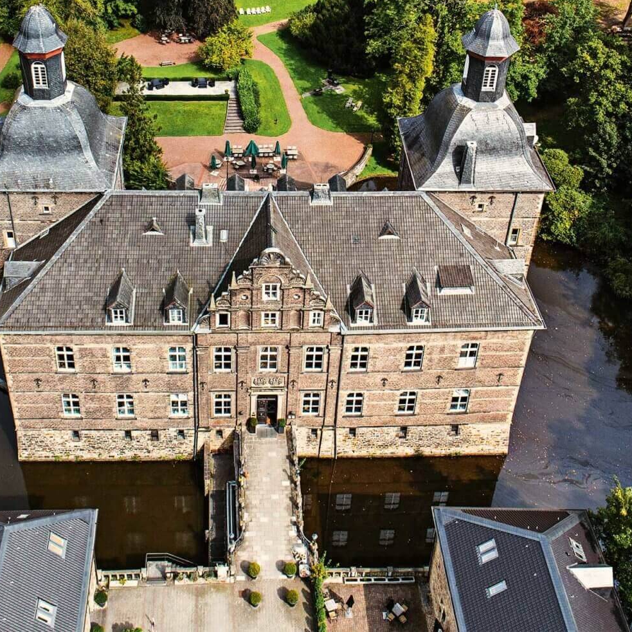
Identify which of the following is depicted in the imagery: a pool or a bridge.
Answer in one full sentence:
I can see a bridge in this picture.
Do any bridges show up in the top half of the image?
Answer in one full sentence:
No, no bridge can be made out in the top half of the image.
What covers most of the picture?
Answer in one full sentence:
For the most part, this view shows buildings.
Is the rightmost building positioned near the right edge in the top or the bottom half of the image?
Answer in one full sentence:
Seen from above, the rightmost building positioned near the right edge lies in the bottom half of the view.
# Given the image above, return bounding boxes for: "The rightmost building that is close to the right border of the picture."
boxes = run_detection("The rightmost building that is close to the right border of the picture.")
[429,503,631,632]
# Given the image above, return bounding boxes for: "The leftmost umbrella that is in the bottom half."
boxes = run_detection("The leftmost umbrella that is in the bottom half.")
[343,590,358,621]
